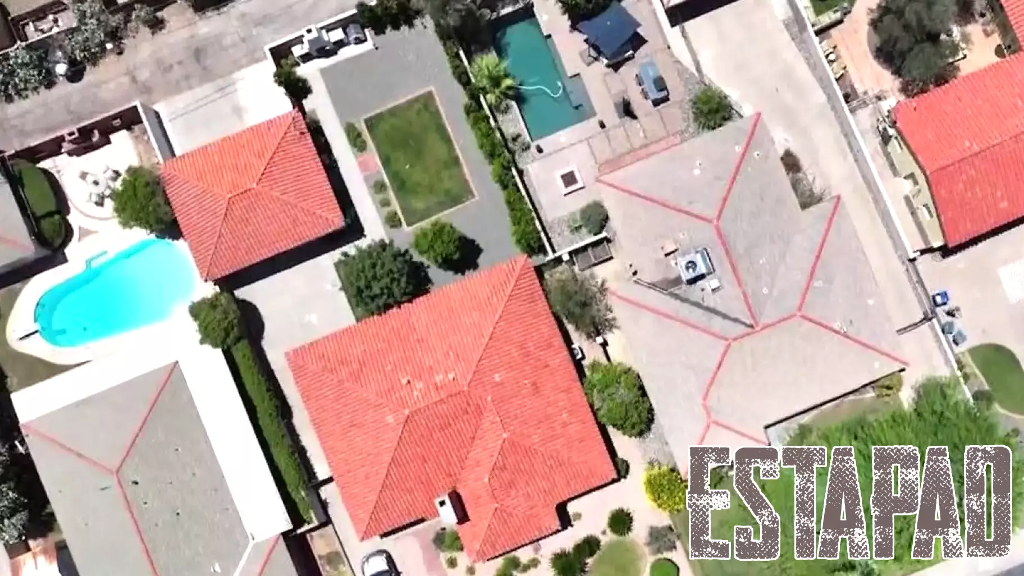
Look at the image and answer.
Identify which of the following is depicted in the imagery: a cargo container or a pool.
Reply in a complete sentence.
The one in the frame is a pool.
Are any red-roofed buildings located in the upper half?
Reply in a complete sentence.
Yes, a red-roofed building is visible in the upper half.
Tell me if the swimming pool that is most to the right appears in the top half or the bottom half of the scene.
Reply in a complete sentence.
Seen from above, the swimming pool that is most to the right lies in the top half of the view.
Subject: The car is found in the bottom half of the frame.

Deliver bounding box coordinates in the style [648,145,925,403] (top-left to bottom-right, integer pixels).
[363,551,393,576]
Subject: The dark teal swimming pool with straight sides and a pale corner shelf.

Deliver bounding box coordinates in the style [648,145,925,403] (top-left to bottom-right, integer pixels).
[491,9,599,143]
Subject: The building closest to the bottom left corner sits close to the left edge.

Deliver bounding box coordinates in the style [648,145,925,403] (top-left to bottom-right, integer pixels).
[8,323,304,576]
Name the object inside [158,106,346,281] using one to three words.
building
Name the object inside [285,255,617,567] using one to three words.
house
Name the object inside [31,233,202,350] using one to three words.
swimming pool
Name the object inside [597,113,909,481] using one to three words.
house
